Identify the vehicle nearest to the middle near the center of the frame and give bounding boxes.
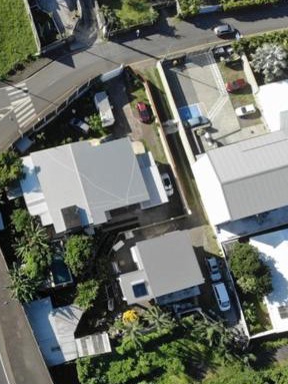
[159,173,176,196]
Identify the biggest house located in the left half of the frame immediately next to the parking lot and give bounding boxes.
[19,136,169,233]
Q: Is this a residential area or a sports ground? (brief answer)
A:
residential area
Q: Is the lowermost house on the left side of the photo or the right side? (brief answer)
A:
left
